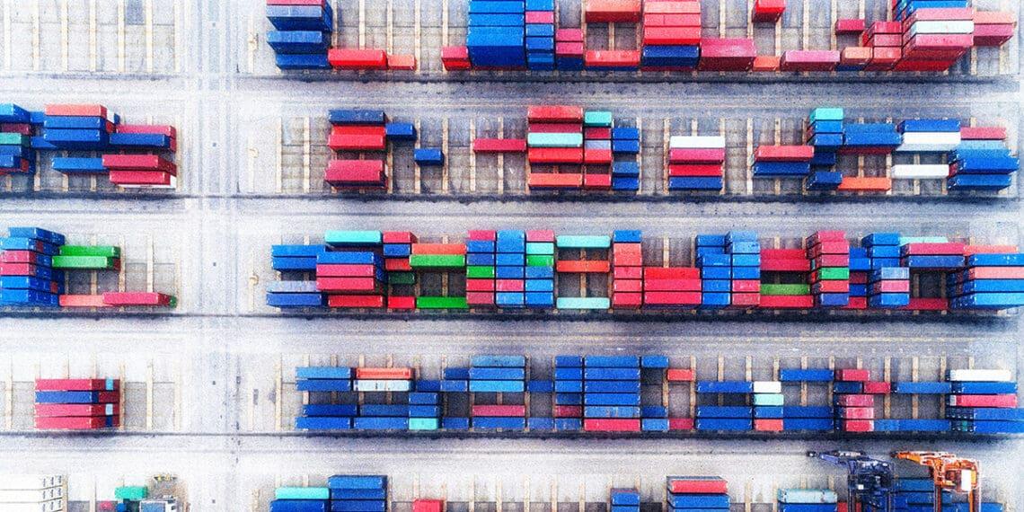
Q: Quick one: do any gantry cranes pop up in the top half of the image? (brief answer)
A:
No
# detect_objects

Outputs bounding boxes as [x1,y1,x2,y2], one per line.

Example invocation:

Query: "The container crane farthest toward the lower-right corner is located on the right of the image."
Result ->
[889,450,985,512]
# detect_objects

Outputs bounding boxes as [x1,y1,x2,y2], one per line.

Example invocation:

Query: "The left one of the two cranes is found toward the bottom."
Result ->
[810,450,896,512]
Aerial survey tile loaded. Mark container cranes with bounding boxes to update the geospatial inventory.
[810,450,896,512]
[889,450,985,512]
